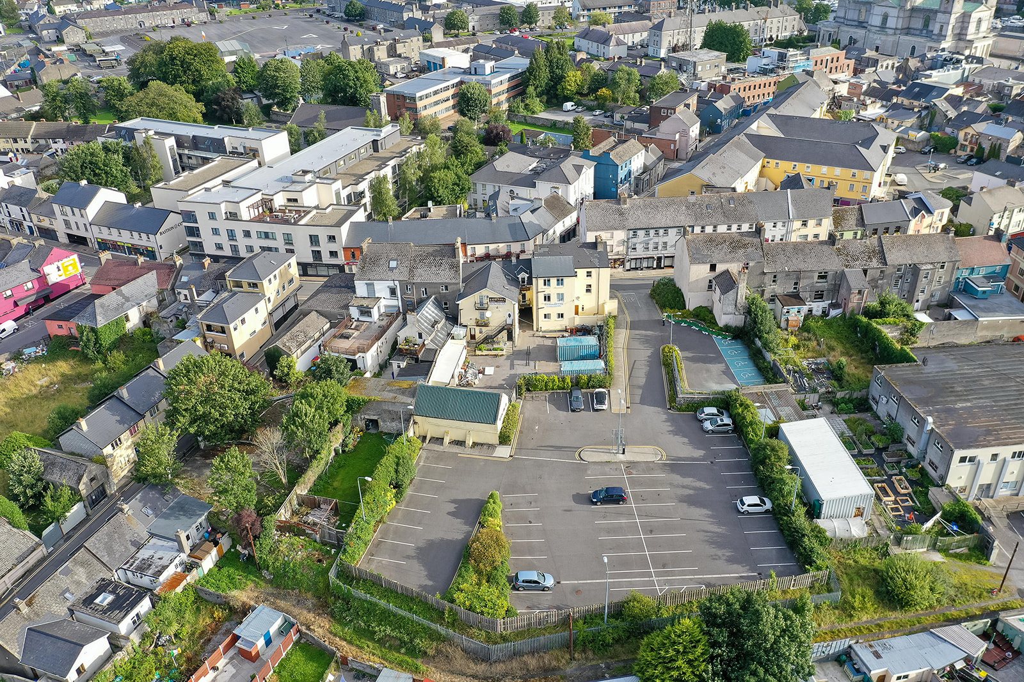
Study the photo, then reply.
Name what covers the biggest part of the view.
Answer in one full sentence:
Most of the picture is covered by buildings.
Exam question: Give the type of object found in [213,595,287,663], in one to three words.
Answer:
shed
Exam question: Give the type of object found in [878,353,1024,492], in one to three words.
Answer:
building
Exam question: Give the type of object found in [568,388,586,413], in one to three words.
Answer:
car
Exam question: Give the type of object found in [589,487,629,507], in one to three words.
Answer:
car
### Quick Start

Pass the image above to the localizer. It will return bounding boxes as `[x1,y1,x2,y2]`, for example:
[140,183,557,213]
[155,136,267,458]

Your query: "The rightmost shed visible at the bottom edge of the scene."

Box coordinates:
[985,601,1024,667]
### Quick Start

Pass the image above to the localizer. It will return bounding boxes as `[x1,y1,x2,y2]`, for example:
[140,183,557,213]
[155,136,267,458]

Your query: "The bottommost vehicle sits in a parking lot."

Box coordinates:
[512,570,555,594]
